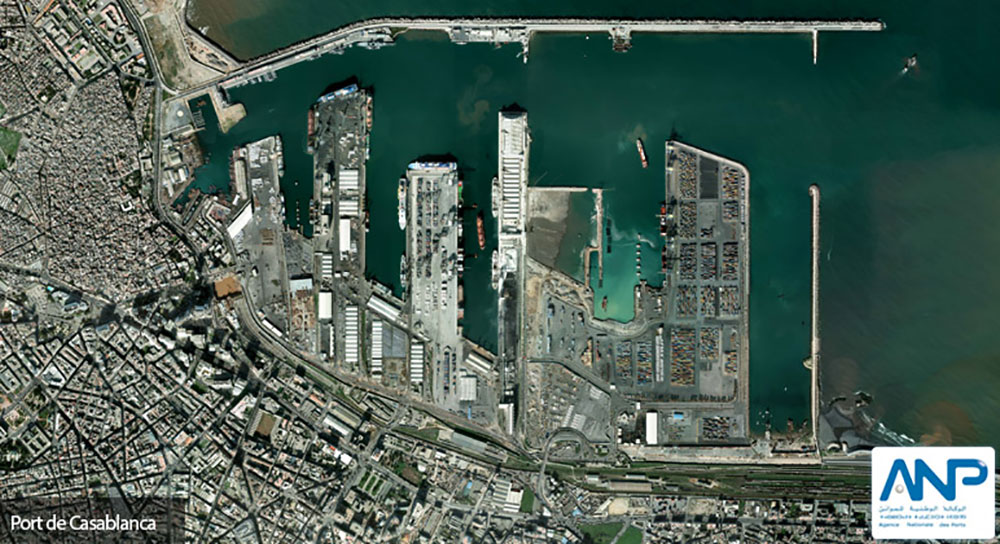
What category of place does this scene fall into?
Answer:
port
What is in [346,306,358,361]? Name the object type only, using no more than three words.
building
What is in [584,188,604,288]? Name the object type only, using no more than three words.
pier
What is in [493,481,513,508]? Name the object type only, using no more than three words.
building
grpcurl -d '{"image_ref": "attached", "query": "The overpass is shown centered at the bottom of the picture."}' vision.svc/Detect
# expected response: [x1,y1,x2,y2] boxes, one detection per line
[538,427,612,508]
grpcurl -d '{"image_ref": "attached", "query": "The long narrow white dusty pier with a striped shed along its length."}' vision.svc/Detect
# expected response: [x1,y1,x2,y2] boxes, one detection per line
[499,111,530,434]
